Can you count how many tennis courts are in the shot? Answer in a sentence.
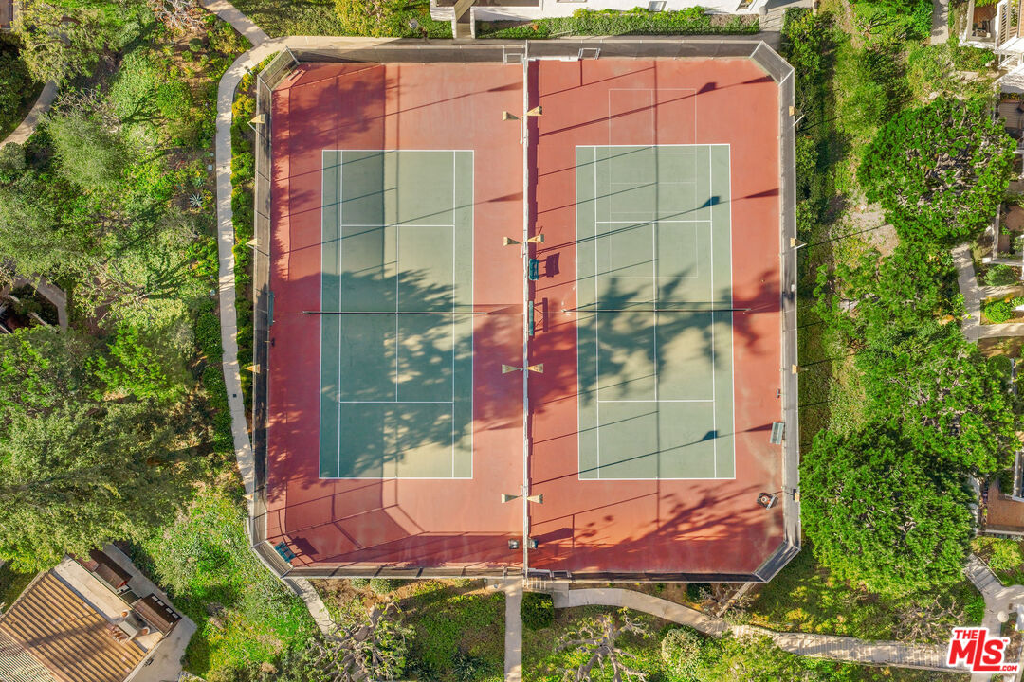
I count 2 tennis courts.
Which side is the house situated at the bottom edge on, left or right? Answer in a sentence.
It is on the left.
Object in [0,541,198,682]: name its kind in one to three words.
house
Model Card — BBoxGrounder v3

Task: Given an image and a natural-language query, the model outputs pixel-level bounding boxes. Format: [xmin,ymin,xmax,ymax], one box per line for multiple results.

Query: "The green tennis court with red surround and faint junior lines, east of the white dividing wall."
[530,57,785,574]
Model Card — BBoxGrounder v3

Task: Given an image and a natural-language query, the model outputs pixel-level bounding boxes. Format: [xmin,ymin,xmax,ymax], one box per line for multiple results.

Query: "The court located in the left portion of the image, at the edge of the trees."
[267,63,526,568]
